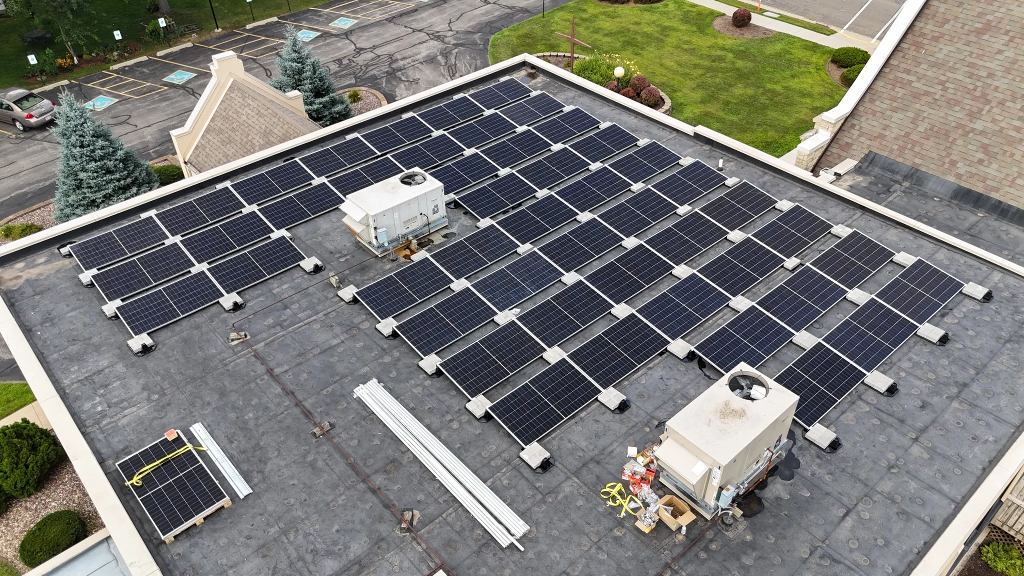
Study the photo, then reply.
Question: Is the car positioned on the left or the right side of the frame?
left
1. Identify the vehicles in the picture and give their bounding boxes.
[0,86,64,133]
